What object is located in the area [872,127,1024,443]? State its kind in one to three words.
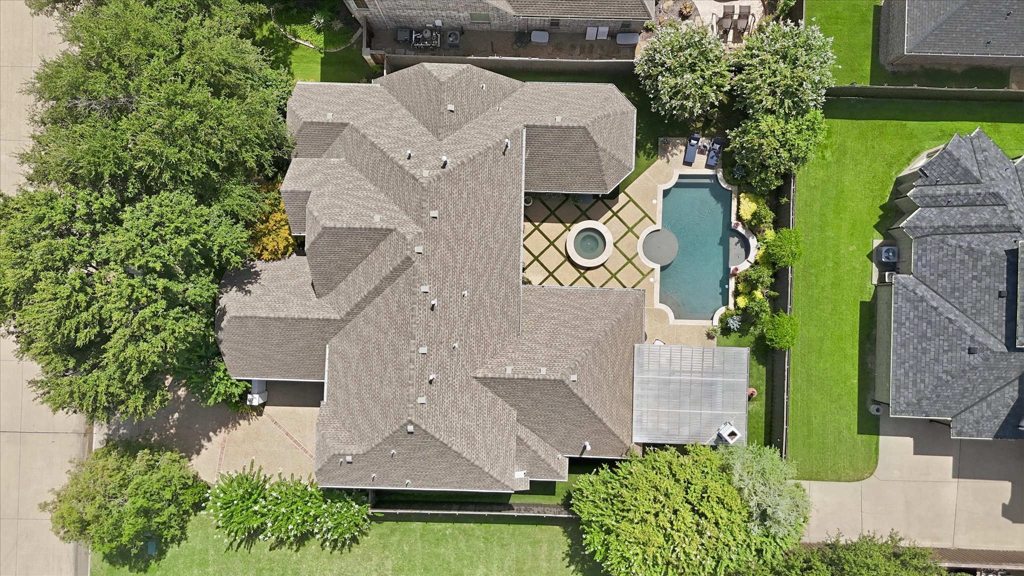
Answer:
house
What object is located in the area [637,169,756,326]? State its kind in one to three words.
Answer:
swimming pool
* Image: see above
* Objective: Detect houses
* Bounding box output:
[889,0,1024,68]
[347,0,662,34]
[214,62,647,494]
[872,127,1024,443]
